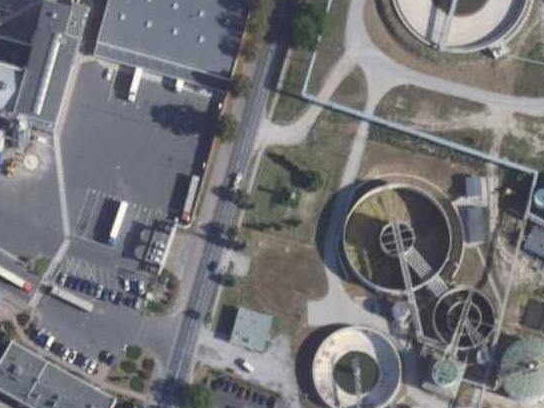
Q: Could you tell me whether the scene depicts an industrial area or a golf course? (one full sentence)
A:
What you see here is an industrial area.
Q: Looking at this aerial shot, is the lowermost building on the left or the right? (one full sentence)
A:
The lowermost building is on the left side of the image.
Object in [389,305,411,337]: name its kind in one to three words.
building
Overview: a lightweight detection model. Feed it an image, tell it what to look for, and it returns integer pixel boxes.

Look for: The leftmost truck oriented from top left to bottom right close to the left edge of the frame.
[0,267,34,292]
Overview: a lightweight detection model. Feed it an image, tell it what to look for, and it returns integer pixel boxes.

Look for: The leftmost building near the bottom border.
[0,341,118,408]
